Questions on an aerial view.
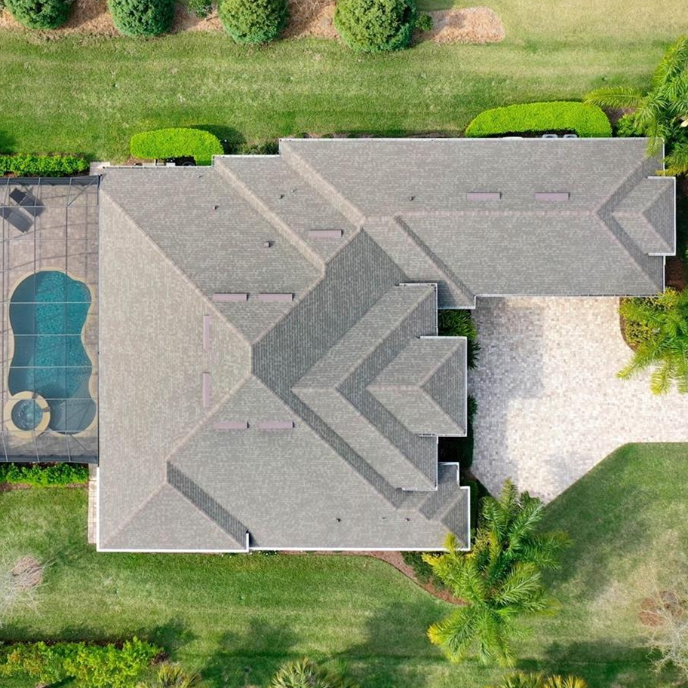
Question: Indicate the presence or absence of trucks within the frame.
No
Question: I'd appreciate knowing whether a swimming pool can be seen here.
Yes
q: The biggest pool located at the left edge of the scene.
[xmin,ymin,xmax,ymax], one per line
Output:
[4,265,97,441]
